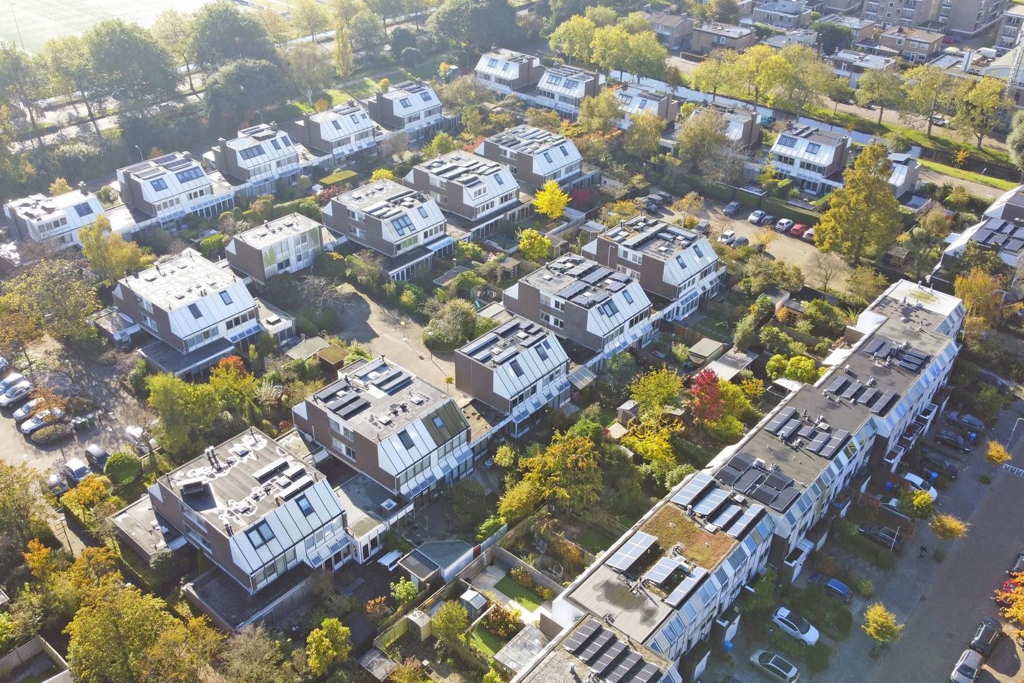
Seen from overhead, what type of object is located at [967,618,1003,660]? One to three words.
car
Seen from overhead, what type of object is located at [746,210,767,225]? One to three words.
car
